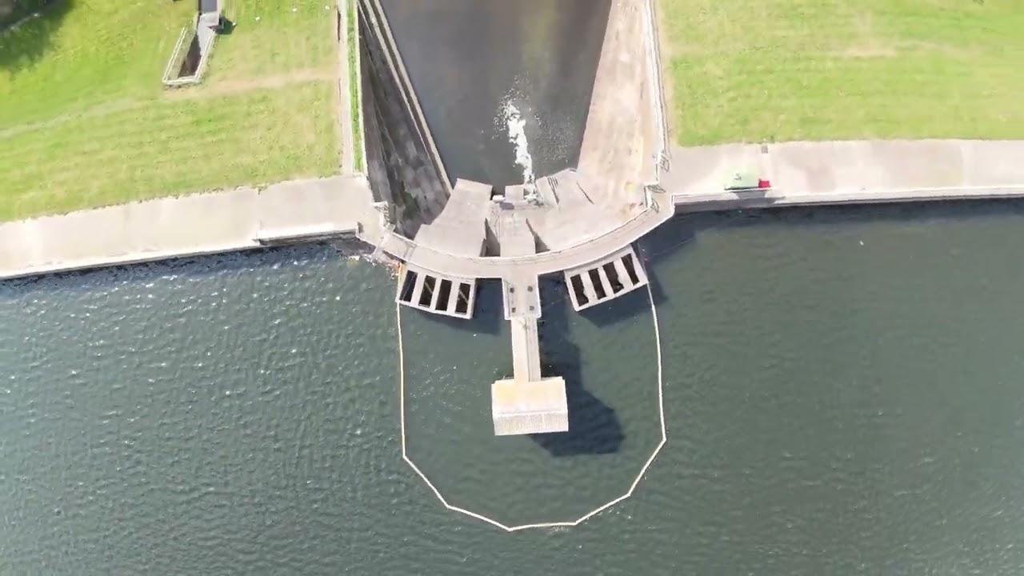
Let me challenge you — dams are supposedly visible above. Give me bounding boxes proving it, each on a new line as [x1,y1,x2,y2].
[0,0,1024,281]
